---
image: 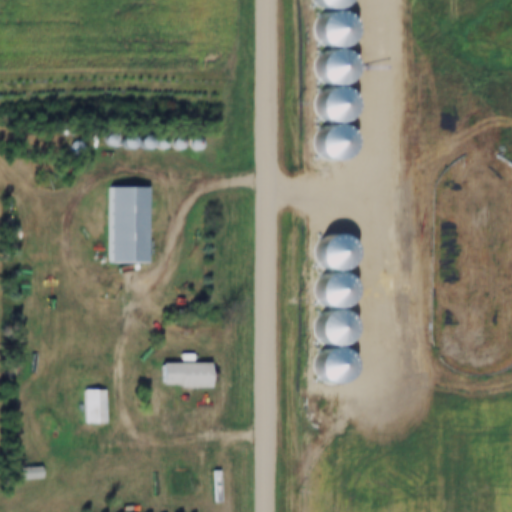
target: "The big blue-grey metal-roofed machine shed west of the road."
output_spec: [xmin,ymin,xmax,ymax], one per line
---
[109,187,152,263]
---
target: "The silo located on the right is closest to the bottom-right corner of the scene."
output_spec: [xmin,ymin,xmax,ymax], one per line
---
[316,346,363,385]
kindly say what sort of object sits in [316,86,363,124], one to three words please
silo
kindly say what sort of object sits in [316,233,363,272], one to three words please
silo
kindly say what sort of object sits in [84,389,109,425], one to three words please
shed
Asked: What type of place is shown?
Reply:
industrial area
